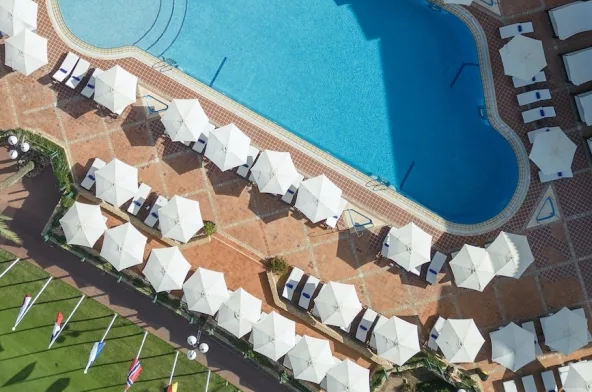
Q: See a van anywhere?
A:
No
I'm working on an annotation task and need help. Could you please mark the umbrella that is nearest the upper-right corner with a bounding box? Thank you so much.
[500,34,545,82]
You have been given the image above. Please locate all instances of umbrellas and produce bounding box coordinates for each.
[143,246,191,291]
[491,321,534,371]
[435,318,484,361]
[161,100,209,142]
[252,312,295,361]
[315,280,362,328]
[158,195,203,243]
[183,268,229,315]
[375,316,419,365]
[541,307,585,355]
[487,232,535,278]
[61,201,107,247]
[326,359,369,392]
[449,244,496,291]
[500,34,545,82]
[529,127,576,174]
[0,0,39,36]
[287,337,334,384]
[95,158,138,206]
[4,29,47,76]
[218,290,261,338]
[251,150,299,194]
[101,222,147,270]
[95,65,138,113]
[562,360,592,392]
[388,222,432,271]
[296,175,342,223]
[206,124,252,171]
